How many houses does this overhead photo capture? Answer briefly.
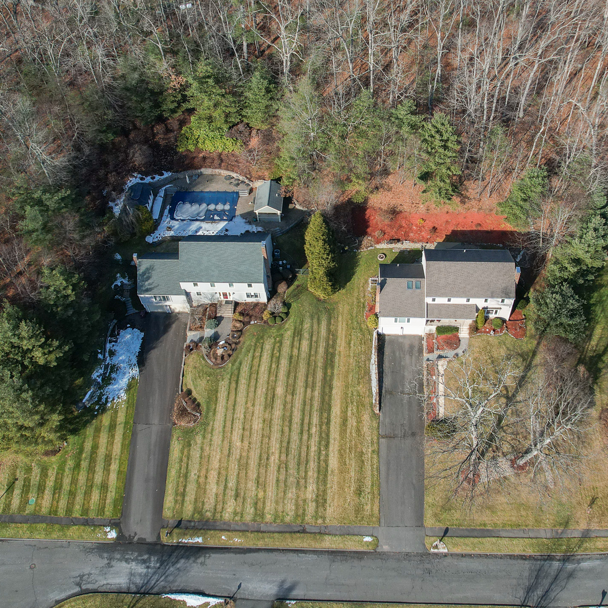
2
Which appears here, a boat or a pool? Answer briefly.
pool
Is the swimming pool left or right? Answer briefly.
left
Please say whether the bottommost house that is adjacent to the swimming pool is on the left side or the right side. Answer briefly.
left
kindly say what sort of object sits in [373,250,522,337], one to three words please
house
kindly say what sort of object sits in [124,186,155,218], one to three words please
gazebo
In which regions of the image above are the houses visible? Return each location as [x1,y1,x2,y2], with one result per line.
[373,250,522,337]
[132,234,273,321]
